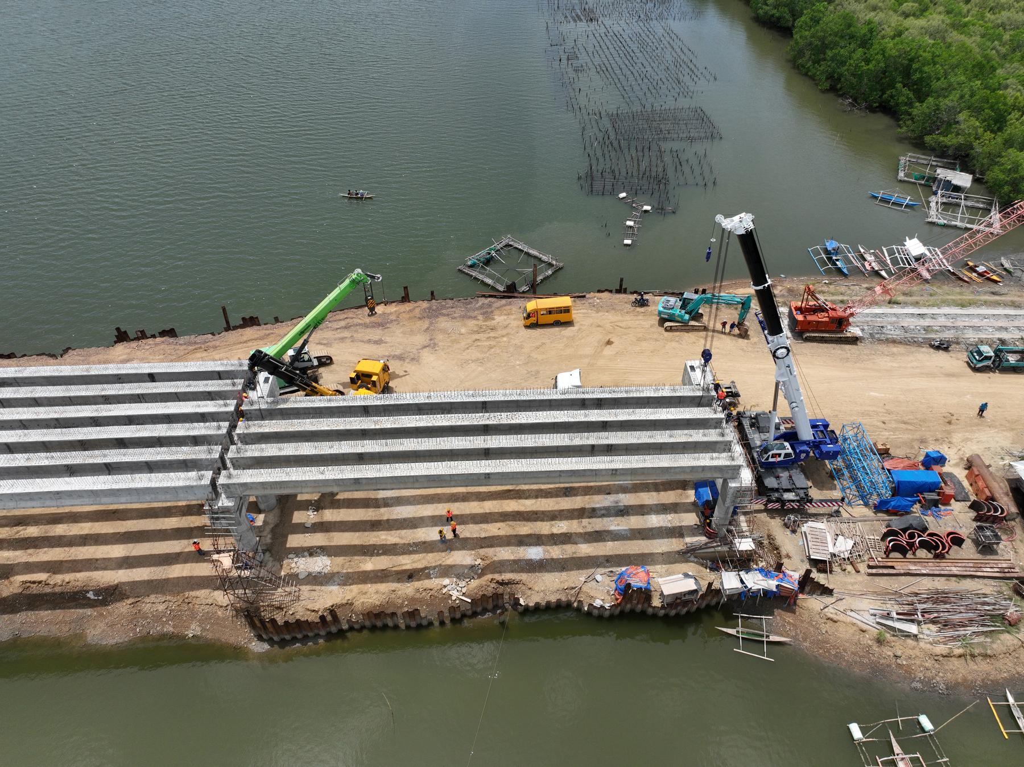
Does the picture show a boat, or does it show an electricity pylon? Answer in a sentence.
It is a boat that can be seen here.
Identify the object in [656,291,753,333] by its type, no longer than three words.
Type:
work vehicle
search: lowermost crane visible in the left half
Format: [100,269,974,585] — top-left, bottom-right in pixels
[243,347,392,419]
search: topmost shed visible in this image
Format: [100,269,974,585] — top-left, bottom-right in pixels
[931,170,984,199]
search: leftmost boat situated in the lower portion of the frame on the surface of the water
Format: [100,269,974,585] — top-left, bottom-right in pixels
[716,610,795,659]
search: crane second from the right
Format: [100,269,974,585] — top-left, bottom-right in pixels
[698,209,854,530]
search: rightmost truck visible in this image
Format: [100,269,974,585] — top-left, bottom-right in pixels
[966,337,1024,370]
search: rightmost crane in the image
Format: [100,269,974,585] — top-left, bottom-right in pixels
[783,192,1024,345]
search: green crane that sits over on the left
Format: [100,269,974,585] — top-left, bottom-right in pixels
[268,266,386,397]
